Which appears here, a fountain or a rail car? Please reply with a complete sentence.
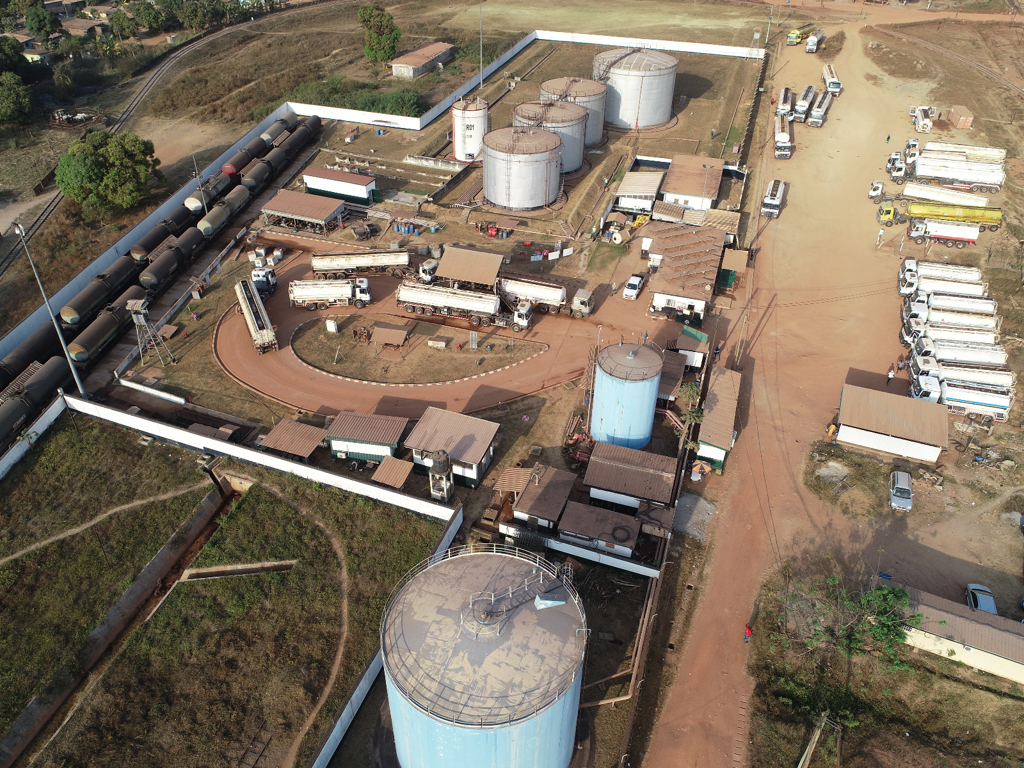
I can see a rail car in this picture.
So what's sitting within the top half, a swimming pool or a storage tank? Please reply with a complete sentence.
The one visible within the top half is a storage tank.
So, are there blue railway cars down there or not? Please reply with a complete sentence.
No, I can't see a single blue railway car in this photo.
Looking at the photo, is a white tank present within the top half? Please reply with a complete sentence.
Yes, looking within the top half, one can make out a white tank.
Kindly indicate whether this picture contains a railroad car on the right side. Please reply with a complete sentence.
No, I see no railroad car on the right side.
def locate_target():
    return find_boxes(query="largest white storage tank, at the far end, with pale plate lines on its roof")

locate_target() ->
[601,50,687,138]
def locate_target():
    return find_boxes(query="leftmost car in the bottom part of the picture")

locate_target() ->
[886,469,916,518]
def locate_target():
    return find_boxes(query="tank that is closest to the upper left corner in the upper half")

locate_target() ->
[444,94,495,163]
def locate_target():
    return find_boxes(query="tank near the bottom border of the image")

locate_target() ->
[372,540,588,768]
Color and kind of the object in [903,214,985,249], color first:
white truck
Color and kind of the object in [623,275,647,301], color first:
white truck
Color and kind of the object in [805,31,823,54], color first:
white vehicle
